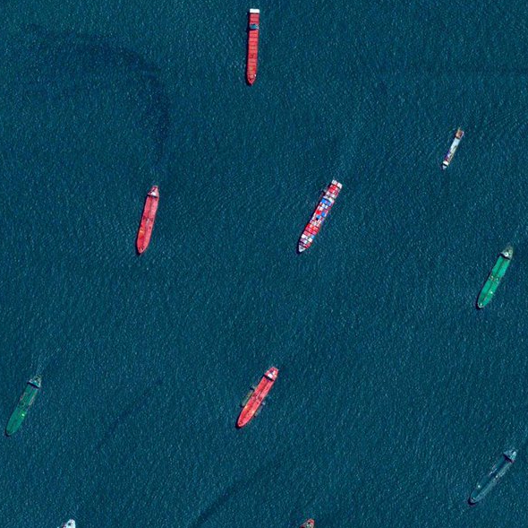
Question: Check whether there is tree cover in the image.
No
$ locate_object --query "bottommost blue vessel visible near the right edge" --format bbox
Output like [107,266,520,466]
[469,450,516,502]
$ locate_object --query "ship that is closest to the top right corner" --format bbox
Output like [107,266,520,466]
[442,127,464,169]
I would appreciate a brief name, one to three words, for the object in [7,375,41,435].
ship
